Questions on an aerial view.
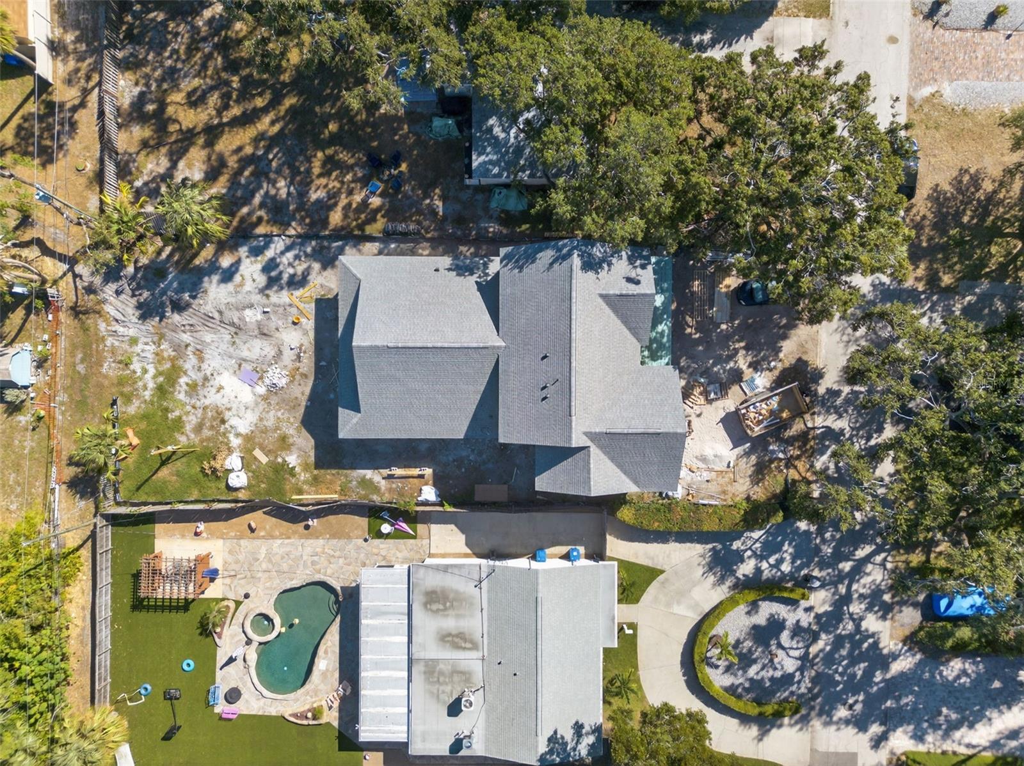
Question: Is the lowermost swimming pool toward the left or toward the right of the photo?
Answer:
left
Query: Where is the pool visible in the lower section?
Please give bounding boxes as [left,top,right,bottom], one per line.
[241,575,346,703]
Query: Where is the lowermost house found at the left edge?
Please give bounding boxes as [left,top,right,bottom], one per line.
[0,347,42,386]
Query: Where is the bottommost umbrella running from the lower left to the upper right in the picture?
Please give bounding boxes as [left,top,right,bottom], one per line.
[220,640,251,671]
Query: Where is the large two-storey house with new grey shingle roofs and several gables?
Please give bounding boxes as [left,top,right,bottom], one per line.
[337,240,687,496]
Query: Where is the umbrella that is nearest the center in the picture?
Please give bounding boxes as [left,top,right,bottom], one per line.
[378,511,415,535]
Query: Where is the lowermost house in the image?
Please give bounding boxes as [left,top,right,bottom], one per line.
[360,554,619,766]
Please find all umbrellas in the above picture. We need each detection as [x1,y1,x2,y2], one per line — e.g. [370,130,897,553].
[220,640,251,671]
[202,569,222,582]
[378,511,415,535]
